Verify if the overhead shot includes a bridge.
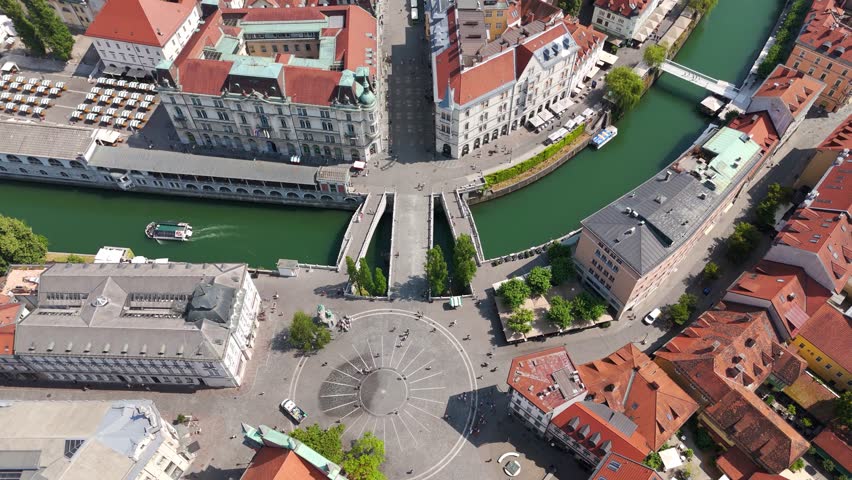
Yes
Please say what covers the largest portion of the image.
buildings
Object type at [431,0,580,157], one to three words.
building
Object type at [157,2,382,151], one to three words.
building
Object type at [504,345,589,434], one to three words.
house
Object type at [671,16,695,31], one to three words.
umbrella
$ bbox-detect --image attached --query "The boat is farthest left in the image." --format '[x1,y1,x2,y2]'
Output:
[143,223,195,241]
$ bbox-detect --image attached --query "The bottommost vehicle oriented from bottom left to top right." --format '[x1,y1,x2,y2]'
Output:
[643,305,662,324]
